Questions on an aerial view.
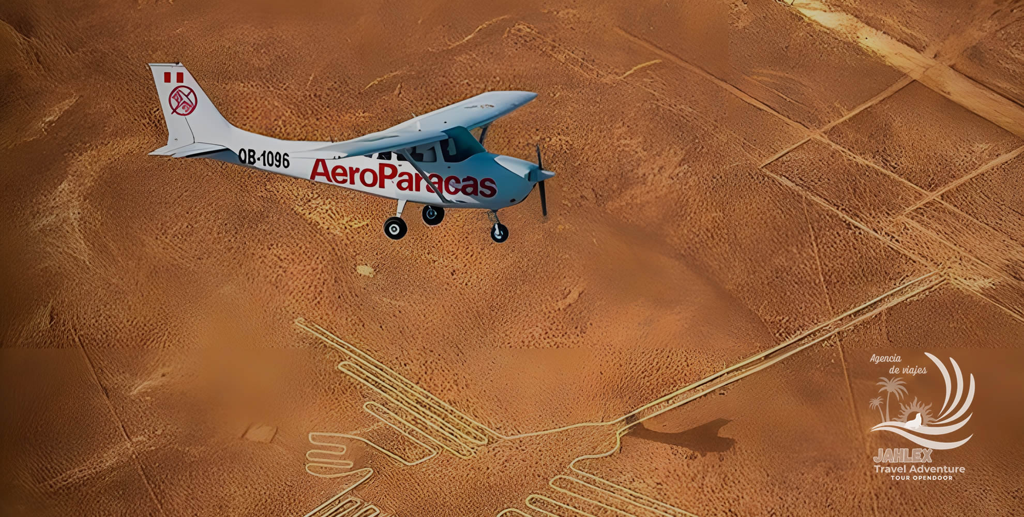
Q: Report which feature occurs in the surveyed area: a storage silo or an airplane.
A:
airplane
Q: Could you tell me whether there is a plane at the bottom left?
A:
No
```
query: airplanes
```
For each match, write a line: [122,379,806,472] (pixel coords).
[146,62,555,242]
